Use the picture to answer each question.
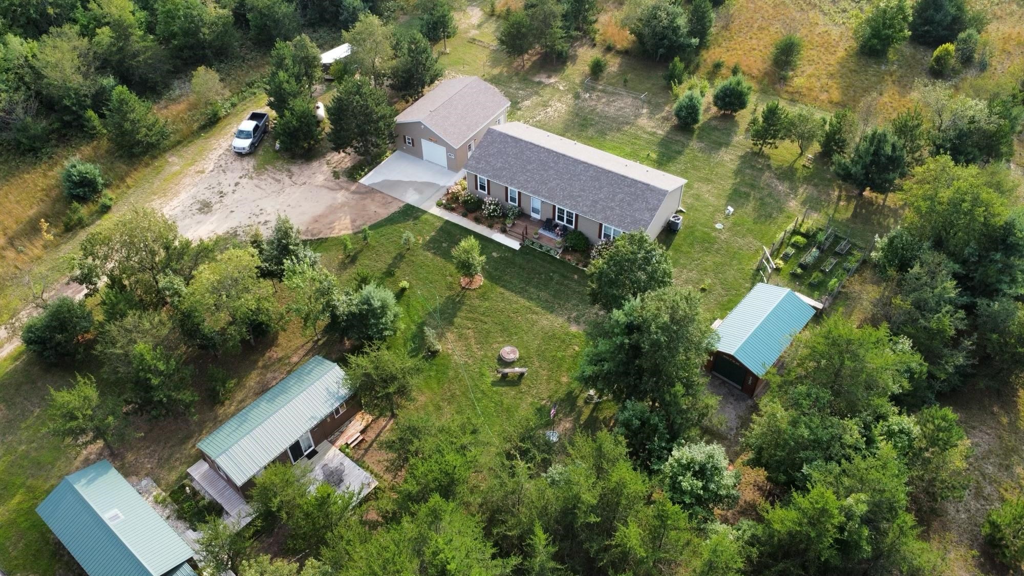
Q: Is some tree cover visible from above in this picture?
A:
Yes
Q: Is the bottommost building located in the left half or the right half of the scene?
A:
left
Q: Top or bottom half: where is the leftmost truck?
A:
top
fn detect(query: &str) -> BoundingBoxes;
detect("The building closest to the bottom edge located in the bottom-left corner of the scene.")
[34,458,207,576]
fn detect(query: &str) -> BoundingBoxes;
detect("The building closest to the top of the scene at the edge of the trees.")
[391,77,510,172]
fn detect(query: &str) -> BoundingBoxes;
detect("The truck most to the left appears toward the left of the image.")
[228,110,272,152]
